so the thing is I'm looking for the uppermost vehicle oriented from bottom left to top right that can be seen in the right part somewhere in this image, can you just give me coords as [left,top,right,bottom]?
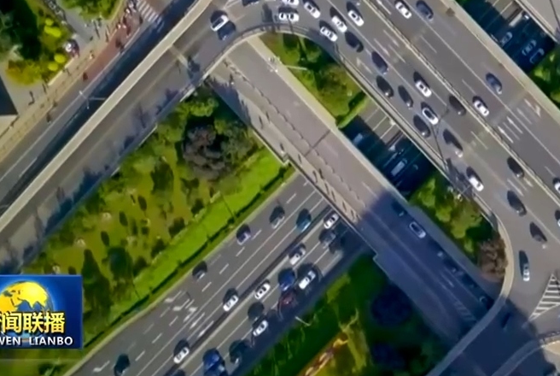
[509,6,528,26]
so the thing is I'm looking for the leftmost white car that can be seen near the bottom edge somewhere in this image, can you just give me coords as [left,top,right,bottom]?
[173,345,190,363]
